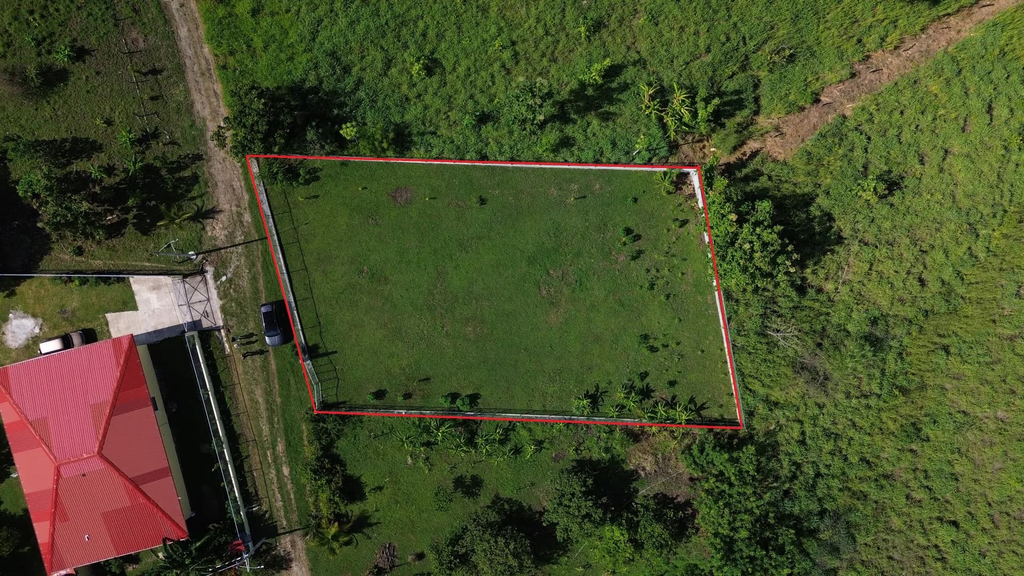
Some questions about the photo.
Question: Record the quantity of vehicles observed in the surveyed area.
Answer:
two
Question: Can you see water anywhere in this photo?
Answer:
No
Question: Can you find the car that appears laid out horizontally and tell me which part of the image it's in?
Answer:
left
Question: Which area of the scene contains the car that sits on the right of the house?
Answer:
left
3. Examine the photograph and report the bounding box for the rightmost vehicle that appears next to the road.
[261,302,286,348]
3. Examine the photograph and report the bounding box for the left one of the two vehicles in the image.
[36,328,88,354]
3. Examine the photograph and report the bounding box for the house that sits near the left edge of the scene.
[0,334,197,576]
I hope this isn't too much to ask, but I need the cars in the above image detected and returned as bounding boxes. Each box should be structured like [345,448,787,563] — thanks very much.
[261,302,286,348]
[36,328,88,354]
